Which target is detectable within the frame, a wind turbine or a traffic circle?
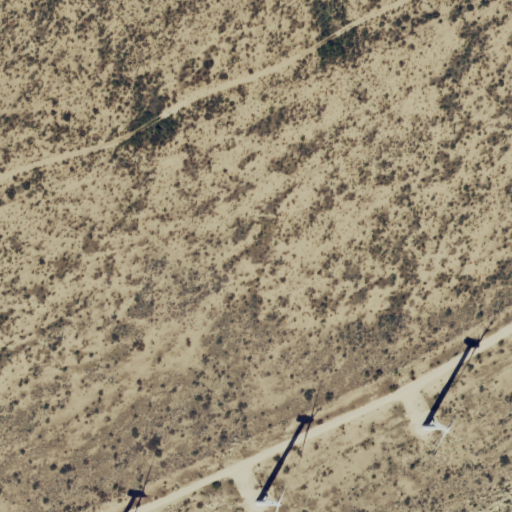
wind turbine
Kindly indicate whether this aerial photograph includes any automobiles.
No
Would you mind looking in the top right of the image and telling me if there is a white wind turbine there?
No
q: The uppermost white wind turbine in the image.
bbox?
[421,414,458,459]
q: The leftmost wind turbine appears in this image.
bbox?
[254,488,286,512]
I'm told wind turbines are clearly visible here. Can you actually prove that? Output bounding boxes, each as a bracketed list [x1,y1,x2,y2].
[254,488,286,512]
[421,414,458,459]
